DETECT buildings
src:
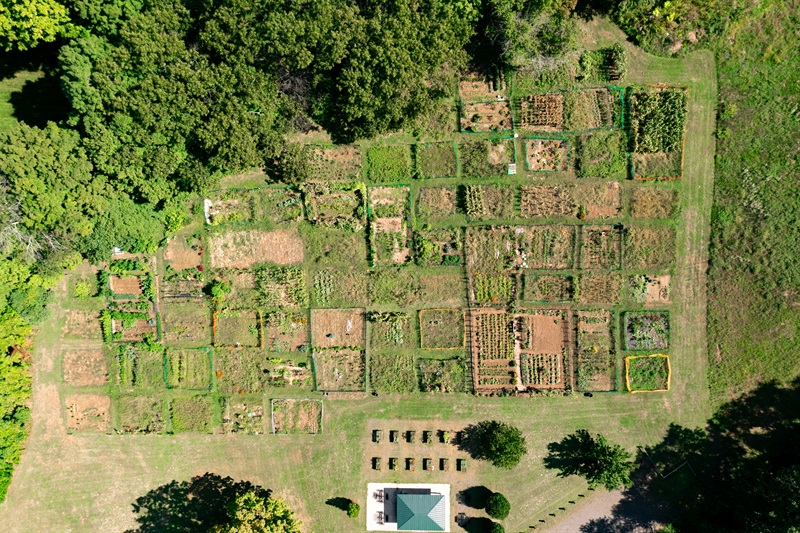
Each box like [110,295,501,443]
[397,491,445,531]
